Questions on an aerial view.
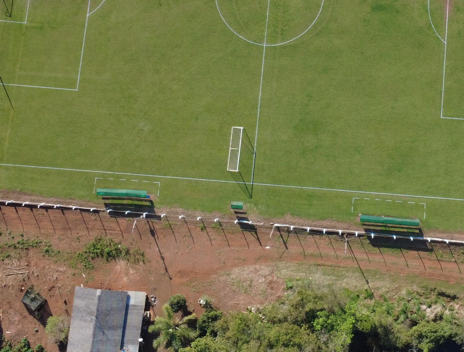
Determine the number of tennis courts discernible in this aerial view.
none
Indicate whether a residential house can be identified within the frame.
Yes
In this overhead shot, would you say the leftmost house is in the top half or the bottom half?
bottom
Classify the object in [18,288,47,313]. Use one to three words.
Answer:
house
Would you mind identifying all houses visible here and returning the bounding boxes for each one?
[67,287,147,352]
[18,288,47,313]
